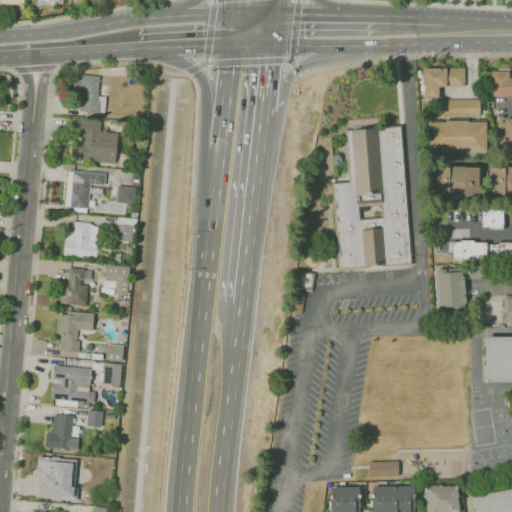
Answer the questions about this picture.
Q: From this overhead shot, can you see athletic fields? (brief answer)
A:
Yes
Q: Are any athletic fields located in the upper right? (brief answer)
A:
No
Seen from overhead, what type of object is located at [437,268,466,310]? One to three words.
house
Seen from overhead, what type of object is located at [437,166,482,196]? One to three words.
building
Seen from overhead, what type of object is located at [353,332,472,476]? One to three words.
sports field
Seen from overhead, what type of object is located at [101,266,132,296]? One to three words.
shed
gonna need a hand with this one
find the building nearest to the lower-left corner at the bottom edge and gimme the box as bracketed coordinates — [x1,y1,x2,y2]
[36,456,80,504]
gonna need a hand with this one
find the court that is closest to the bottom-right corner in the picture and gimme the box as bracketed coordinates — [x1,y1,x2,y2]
[473,442,512,477]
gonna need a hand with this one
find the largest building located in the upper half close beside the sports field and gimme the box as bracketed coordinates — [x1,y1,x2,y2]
[335,126,414,269]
